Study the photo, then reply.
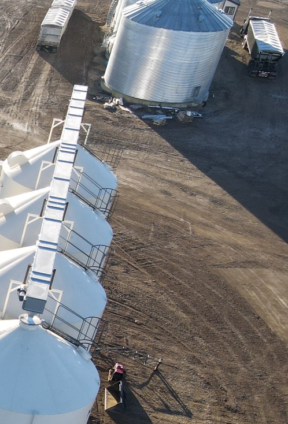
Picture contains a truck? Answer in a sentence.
Yes, a truck appears in the view.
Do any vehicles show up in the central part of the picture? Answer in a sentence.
No, I see no vehicle in the central part of the picture.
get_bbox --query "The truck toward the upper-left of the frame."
[35,0,73,53]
